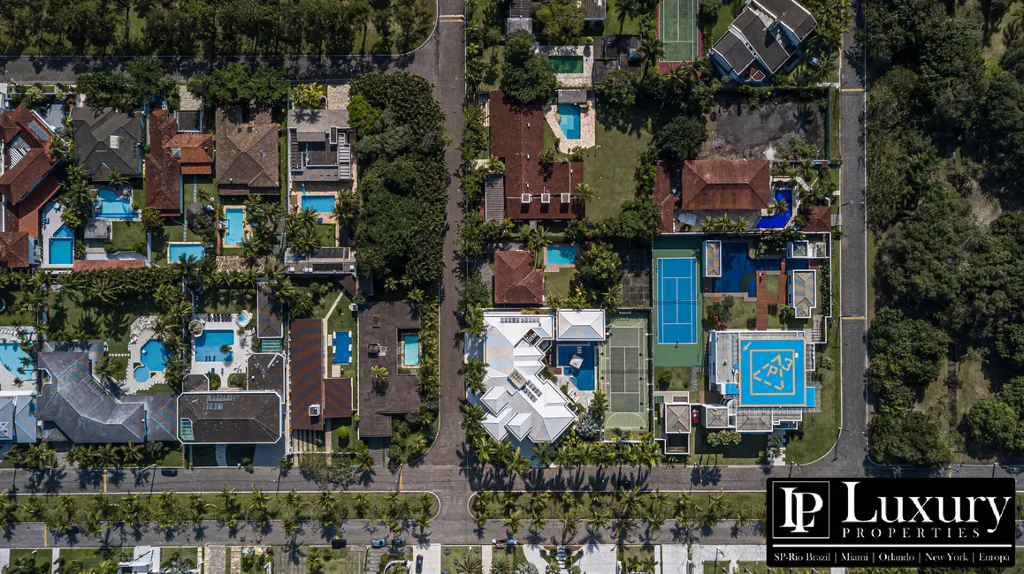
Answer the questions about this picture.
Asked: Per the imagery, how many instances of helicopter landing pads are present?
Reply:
1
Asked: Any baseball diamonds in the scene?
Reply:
No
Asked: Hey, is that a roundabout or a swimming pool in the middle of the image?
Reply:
swimming pool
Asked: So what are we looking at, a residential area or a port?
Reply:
residential area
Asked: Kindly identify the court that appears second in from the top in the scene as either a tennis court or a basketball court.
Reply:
tennis court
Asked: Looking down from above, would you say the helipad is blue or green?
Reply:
blue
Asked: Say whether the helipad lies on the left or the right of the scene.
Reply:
right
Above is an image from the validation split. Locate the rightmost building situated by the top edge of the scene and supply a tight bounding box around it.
[708,0,815,84]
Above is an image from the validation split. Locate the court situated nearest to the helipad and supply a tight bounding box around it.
[655,234,704,365]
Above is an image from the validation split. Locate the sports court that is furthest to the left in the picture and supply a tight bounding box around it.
[605,312,650,431]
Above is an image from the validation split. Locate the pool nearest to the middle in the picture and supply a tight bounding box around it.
[544,243,580,267]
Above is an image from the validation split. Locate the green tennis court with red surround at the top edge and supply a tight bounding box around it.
[657,0,703,76]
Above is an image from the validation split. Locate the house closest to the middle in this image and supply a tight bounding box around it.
[495,251,544,304]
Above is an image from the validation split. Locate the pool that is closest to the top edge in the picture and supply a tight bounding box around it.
[548,54,585,74]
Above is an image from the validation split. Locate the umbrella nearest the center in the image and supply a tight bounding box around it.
[569,353,585,369]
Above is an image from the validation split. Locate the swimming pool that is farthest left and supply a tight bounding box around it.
[0,342,34,382]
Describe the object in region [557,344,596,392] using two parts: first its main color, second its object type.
blue swimming pool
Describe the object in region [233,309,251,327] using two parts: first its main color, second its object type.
white swimming pool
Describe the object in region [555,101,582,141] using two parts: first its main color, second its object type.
blue swimming pool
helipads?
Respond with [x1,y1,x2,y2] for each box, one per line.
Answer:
[738,337,806,407]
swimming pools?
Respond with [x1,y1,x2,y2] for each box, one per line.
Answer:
[786,259,809,270]
[93,213,139,219]
[194,329,235,364]
[133,366,151,383]
[402,332,421,369]
[47,223,76,266]
[555,101,582,141]
[548,54,585,74]
[713,241,783,297]
[233,309,251,327]
[0,342,34,382]
[138,338,172,373]
[167,241,206,264]
[756,188,793,229]
[332,331,352,365]
[557,344,596,392]
[299,193,337,214]
[224,207,245,247]
[544,243,580,267]
[97,186,132,214]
